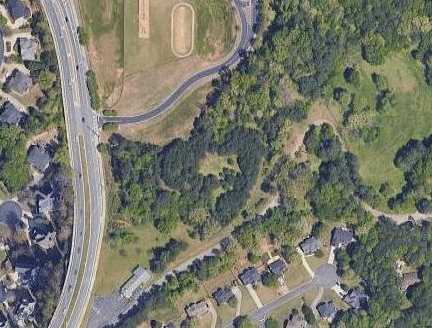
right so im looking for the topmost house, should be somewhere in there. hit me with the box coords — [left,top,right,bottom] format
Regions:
[2,0,30,24]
